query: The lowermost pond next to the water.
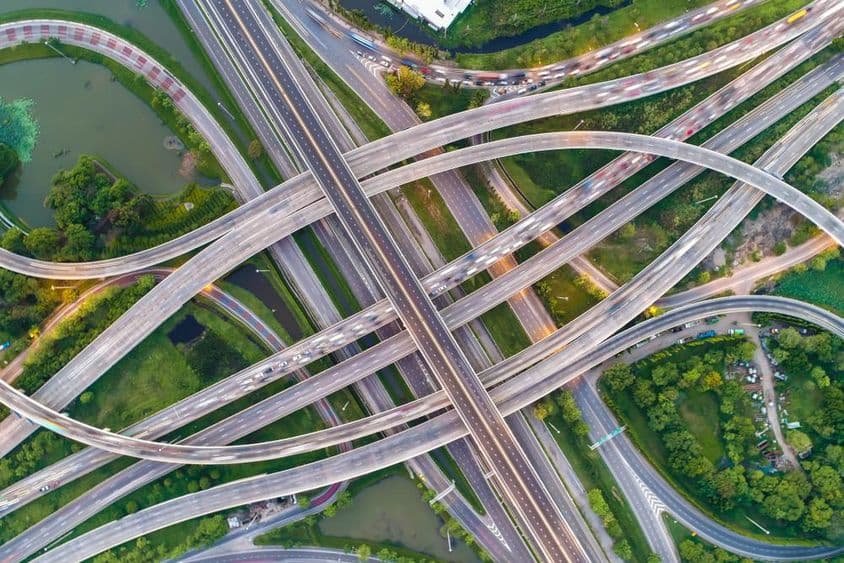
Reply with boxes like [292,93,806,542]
[316,474,487,563]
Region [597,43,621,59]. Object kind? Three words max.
vehicle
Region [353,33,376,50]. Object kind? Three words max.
vehicle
